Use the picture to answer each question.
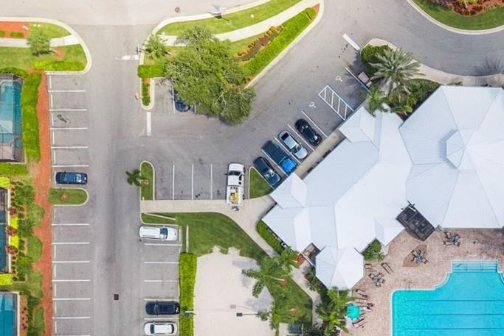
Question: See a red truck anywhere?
No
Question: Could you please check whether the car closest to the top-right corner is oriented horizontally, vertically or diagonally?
diagonally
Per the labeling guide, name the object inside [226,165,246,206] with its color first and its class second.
white vehicle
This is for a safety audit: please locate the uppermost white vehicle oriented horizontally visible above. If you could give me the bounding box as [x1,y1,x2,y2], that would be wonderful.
[141,226,178,242]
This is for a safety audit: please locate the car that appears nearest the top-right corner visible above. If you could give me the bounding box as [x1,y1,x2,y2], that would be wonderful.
[295,116,323,147]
